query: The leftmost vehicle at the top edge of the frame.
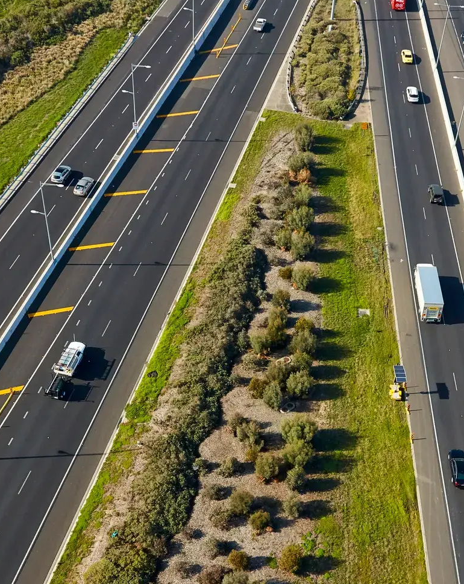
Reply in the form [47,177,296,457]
[253,19,266,32]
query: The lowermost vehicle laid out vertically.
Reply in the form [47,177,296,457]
[448,453,464,490]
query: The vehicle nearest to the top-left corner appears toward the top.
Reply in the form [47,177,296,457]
[49,167,71,185]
